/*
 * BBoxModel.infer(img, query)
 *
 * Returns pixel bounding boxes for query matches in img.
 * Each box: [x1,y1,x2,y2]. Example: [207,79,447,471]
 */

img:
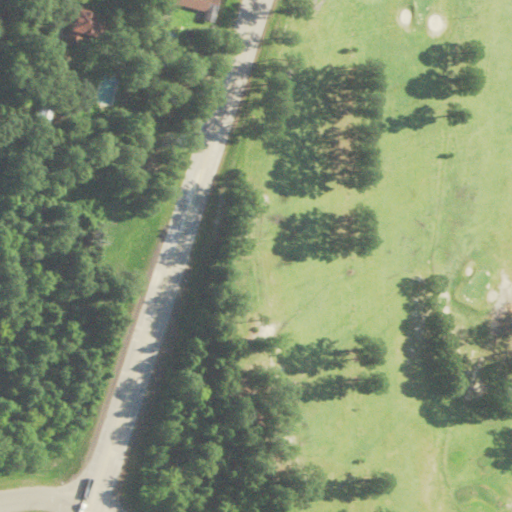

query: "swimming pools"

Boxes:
[97,76,118,107]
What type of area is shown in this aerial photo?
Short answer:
golf course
